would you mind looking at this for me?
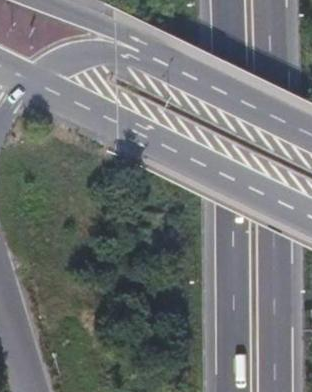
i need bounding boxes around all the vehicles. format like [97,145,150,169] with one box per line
[234,212,244,222]
[6,84,26,104]
[235,352,246,386]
